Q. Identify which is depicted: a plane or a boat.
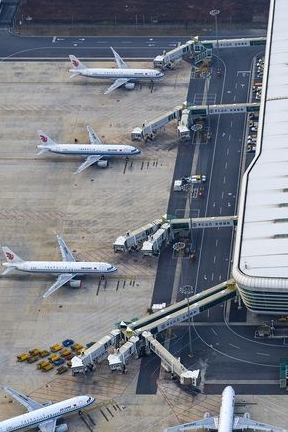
plane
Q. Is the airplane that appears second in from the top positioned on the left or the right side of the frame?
left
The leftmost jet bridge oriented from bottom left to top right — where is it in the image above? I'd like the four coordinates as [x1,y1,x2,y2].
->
[67,329,122,376]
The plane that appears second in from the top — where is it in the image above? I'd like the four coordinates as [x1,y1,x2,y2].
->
[36,124,139,174]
